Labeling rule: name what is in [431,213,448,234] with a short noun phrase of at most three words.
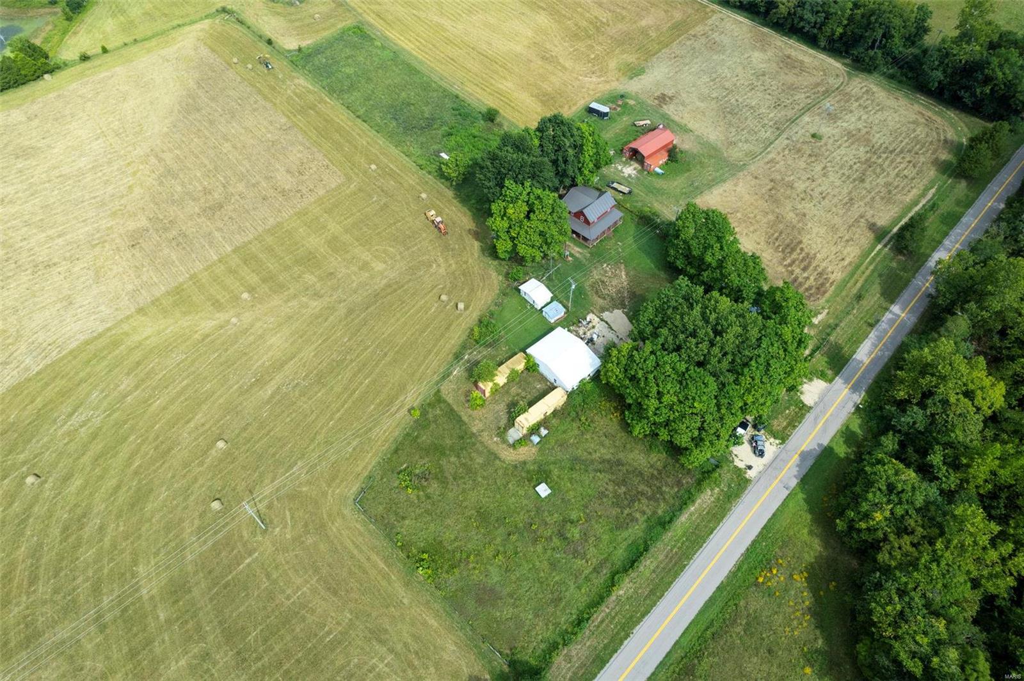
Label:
work vehicle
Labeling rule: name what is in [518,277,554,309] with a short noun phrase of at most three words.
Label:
shed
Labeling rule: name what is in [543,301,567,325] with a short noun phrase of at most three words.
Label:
shed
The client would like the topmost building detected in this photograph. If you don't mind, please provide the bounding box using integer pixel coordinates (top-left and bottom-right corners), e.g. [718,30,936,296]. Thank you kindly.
[624,130,675,173]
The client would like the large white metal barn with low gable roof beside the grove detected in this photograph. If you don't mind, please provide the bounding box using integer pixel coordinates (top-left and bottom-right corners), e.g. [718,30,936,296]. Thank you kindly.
[524,327,602,399]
